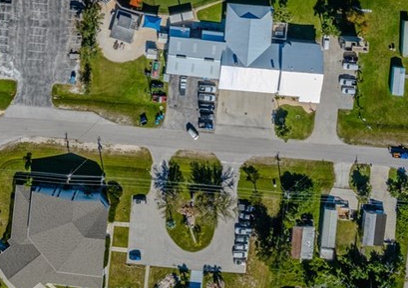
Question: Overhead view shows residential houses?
Yes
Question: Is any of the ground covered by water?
No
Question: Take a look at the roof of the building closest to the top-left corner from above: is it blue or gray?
gray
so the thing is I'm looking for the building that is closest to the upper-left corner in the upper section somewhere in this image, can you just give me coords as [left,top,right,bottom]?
[109,9,141,44]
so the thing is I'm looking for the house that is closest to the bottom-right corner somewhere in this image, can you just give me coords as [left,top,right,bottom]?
[360,209,387,246]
